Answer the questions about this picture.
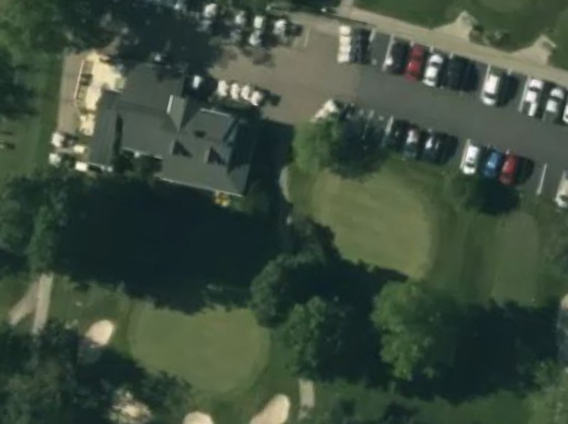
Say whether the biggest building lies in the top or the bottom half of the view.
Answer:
top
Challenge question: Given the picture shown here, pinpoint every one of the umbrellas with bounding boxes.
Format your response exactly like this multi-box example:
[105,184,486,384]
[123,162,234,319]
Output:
[215,193,229,206]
